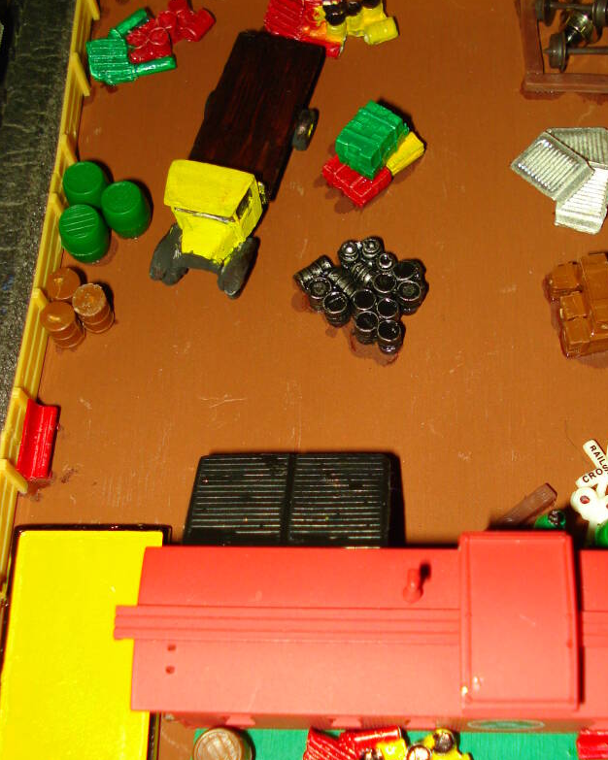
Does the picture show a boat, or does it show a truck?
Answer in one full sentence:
I can see a truck in this picture.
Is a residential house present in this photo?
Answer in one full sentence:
No, the frame has no residential house in it.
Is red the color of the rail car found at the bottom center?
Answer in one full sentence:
Yes, the rail car found at the bottom center is red.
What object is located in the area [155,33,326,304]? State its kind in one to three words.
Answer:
truck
